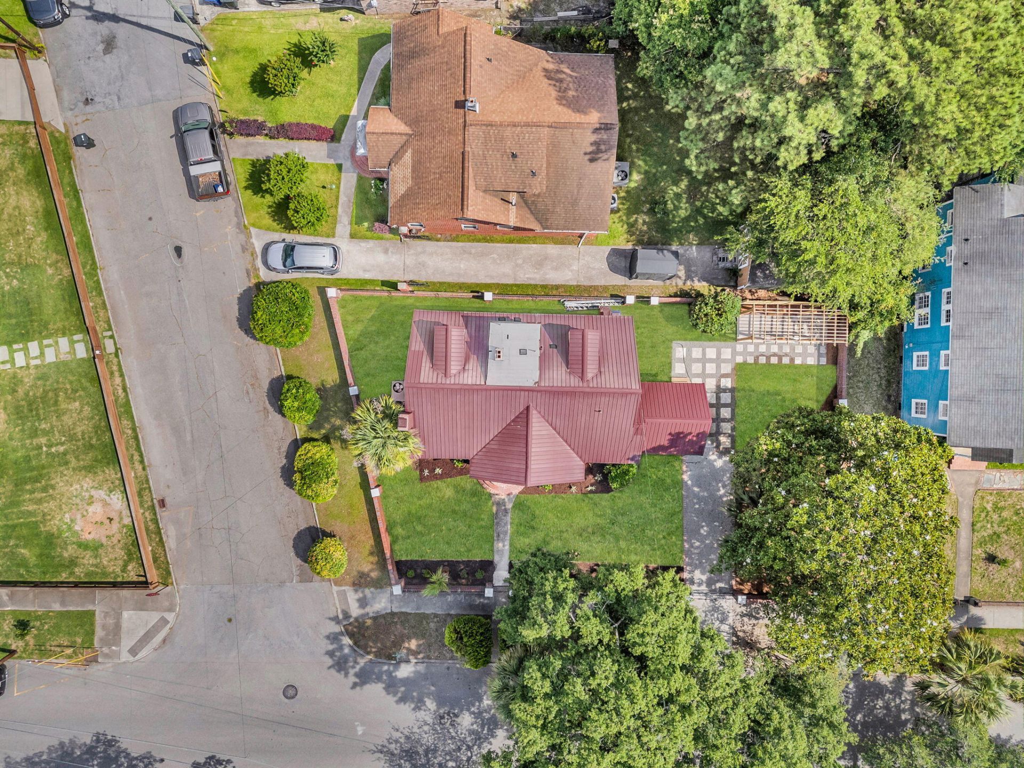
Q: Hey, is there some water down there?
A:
No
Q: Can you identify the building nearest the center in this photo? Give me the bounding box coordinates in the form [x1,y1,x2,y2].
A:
[397,309,712,495]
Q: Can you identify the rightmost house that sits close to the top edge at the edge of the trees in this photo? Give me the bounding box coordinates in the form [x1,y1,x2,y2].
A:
[352,8,619,249]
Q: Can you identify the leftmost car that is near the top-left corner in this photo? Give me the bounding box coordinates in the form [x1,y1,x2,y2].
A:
[27,0,72,28]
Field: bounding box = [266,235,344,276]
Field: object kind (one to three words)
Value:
car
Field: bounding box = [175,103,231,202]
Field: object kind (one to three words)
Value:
truck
